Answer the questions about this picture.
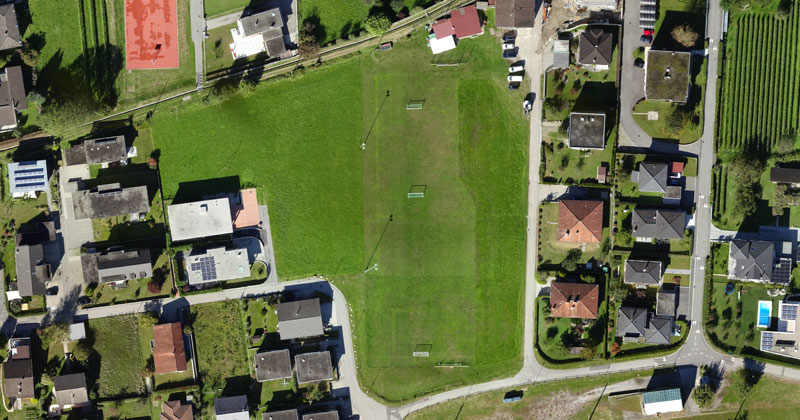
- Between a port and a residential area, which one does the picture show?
residential area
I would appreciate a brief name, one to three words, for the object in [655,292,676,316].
building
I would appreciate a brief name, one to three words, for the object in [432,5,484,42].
building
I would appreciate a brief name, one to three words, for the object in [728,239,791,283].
house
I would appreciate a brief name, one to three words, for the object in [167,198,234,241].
house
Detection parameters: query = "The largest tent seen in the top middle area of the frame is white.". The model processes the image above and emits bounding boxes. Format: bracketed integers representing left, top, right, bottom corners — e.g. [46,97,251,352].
[429,36,455,55]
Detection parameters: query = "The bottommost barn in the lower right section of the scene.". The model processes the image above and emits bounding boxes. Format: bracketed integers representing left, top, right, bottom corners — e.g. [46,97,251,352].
[640,386,683,415]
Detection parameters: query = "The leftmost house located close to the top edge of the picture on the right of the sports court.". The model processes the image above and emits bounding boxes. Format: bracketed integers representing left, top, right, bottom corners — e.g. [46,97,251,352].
[230,9,286,60]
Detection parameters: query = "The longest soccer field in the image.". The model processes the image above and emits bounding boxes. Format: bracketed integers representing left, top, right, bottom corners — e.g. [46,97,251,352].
[331,38,529,405]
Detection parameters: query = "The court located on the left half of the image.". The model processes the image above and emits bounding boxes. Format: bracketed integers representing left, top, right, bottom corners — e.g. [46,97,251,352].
[125,0,179,69]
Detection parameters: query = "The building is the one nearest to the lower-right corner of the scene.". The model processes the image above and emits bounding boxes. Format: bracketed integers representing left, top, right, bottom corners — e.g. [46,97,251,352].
[759,300,800,358]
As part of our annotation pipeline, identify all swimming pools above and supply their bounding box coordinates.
[758,301,773,329]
